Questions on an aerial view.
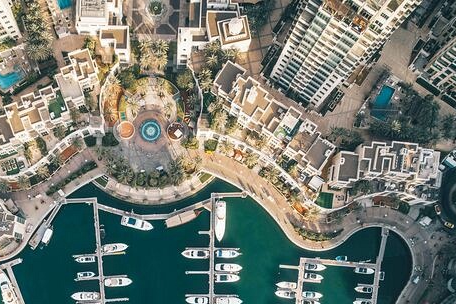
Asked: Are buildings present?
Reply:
Yes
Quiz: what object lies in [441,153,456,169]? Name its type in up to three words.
vehicle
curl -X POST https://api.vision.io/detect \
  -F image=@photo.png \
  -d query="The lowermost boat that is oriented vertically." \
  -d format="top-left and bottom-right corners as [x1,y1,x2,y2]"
[0,270,16,304]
